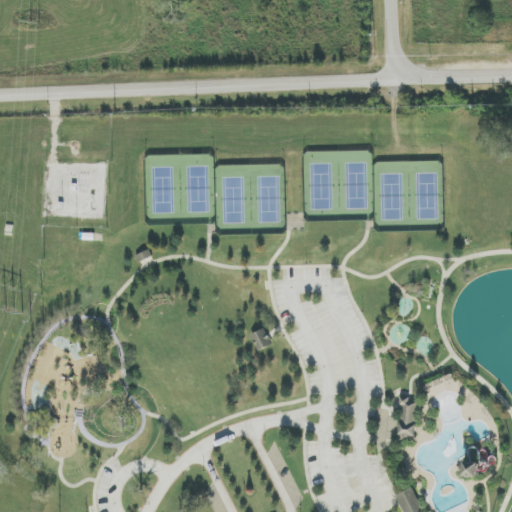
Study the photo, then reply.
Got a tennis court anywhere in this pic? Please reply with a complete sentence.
Yes, the image includes a tennis court.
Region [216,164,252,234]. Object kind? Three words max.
tennis court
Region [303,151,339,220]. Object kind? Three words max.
tennis court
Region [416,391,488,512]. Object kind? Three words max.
swimming pool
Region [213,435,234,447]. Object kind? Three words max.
vehicle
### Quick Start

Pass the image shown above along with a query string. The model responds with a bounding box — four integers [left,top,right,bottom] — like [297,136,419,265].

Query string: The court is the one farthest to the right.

[408,160,444,230]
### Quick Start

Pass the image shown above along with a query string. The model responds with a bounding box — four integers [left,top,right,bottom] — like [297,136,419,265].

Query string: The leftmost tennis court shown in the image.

[145,154,182,224]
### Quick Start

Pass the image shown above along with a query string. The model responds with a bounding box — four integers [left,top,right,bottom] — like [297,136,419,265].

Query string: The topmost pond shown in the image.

[454,268,512,391]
